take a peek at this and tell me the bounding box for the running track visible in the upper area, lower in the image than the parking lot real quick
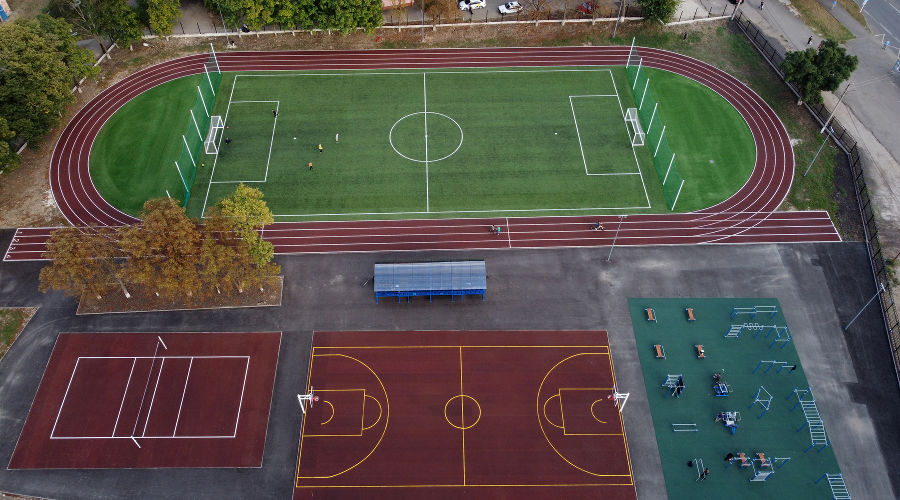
[3,46,841,261]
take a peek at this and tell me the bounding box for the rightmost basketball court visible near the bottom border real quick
[292,330,638,500]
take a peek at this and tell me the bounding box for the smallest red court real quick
[5,330,283,470]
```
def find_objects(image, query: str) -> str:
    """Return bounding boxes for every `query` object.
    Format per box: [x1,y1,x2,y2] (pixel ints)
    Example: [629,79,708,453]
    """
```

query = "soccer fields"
[184,66,671,224]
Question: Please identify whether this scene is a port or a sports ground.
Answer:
sports ground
